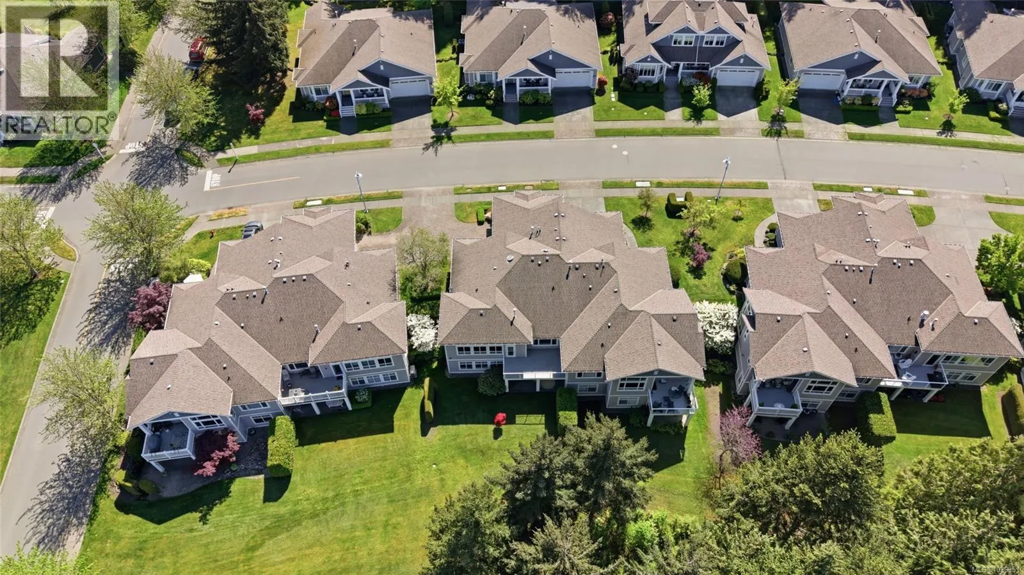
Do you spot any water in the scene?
No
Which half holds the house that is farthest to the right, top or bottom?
top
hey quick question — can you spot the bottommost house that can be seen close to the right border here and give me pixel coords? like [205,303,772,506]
[738,192,1024,431]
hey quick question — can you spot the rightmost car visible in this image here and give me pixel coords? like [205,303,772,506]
[239,213,265,240]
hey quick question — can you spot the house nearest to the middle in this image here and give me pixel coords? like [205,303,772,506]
[435,190,705,425]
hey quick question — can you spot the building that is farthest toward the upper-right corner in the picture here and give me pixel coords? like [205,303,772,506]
[942,0,1024,115]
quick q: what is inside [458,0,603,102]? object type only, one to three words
house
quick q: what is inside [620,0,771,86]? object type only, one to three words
house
